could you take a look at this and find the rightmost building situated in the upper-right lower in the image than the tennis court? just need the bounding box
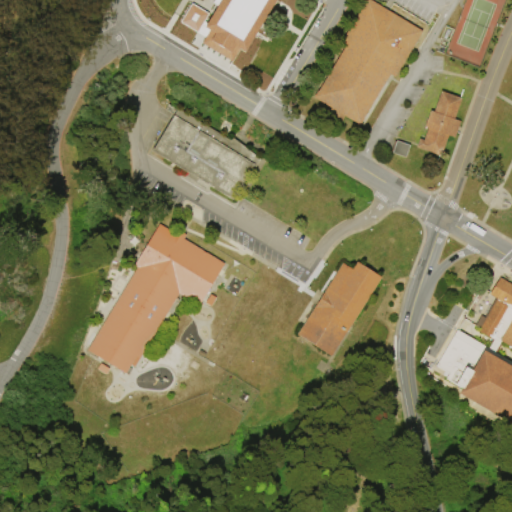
[418,91,462,154]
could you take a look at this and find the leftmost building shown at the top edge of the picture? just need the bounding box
[182,2,208,32]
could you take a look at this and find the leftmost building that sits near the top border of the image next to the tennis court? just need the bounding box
[318,0,422,123]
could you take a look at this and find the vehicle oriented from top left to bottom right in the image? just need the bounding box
[468,222,487,236]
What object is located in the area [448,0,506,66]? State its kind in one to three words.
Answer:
tennis court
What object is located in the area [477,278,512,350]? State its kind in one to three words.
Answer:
building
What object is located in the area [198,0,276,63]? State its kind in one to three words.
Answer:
building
